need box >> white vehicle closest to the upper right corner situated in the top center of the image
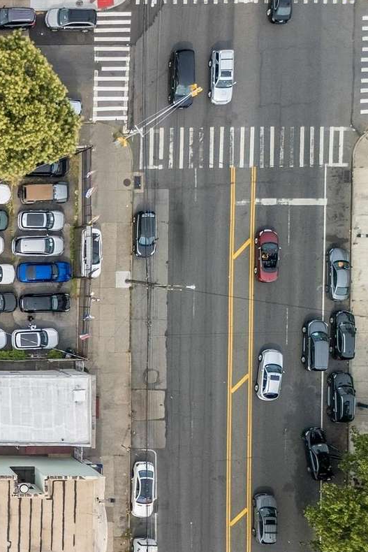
[206,49,237,107]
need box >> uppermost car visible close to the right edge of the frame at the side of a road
[322,248,353,301]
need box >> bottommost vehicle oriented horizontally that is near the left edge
[10,327,58,351]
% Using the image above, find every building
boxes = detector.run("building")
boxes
[0,459,115,552]
[0,357,100,458]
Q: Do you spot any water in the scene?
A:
No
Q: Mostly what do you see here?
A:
paved ground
